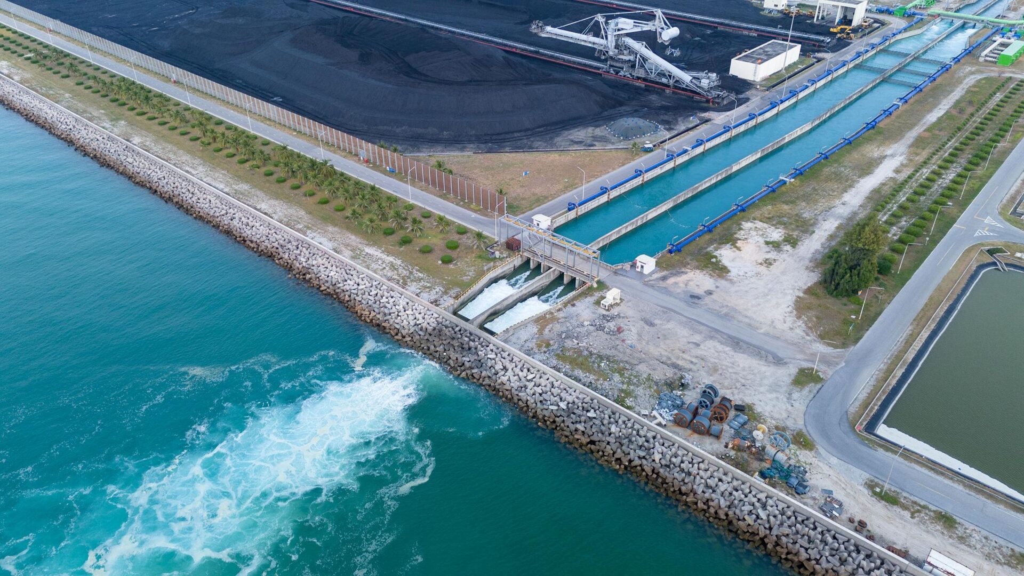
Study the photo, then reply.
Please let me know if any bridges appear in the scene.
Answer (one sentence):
Yes, the picture does show a bridge.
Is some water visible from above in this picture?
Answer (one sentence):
Yes, the picture does contain water.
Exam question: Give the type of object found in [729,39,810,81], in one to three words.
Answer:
building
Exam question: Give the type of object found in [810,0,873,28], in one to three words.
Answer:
shed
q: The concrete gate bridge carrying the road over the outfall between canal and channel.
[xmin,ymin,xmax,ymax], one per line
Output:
[521,240,614,289]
